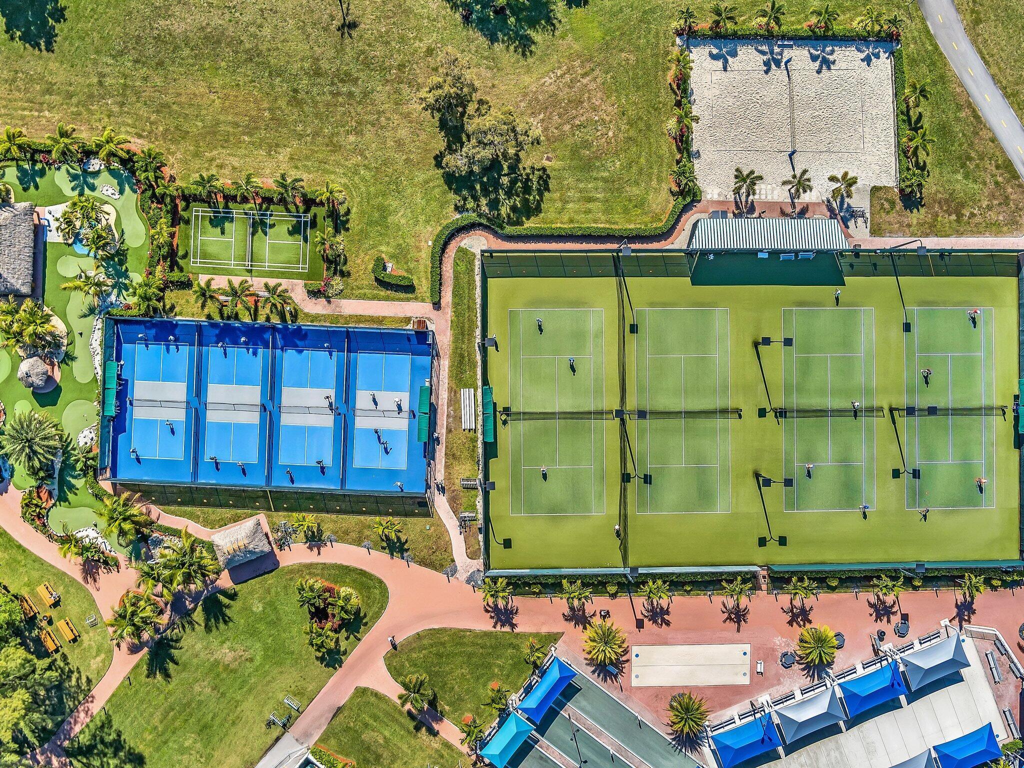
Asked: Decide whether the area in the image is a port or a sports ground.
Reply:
sports ground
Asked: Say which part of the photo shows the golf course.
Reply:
left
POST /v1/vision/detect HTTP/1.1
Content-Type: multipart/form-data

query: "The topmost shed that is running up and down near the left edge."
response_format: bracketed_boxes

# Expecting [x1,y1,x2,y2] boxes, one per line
[0,204,41,296]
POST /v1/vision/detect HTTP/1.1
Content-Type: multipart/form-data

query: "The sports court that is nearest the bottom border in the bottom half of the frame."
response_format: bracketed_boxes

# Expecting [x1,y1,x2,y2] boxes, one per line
[632,644,751,687]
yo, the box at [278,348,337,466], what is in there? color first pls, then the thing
blue sports court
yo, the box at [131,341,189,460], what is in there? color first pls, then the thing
blue sports court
